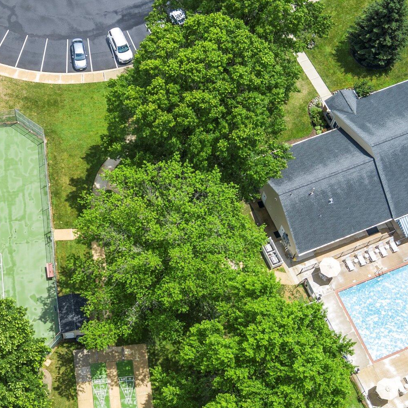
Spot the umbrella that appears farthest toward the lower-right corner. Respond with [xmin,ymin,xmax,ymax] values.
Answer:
[375,378,398,402]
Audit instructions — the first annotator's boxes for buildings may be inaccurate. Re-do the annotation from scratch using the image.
[57,297,90,341]
[250,80,408,258]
